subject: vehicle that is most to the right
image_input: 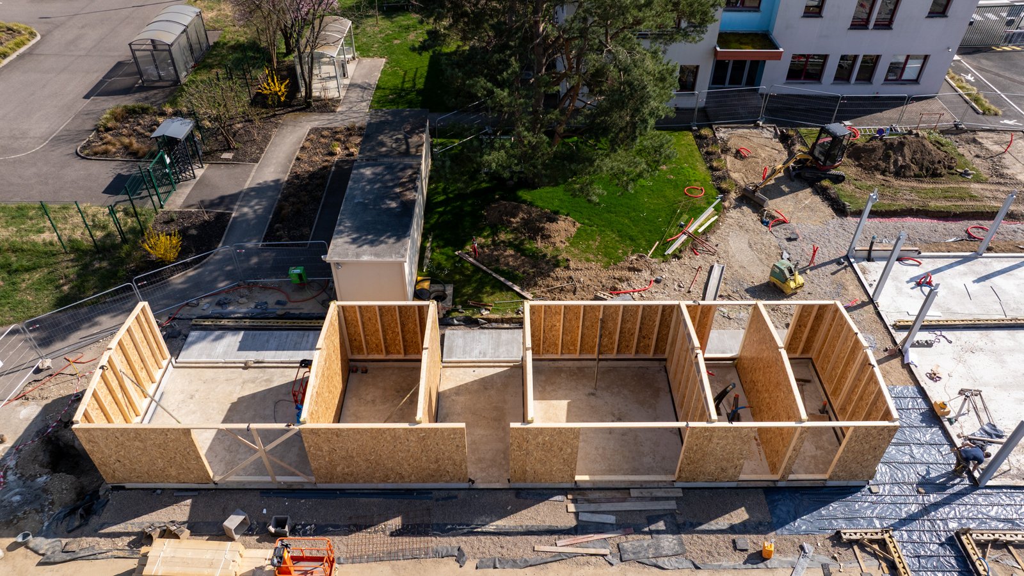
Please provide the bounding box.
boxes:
[747,105,857,196]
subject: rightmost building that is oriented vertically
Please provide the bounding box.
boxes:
[325,107,432,302]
